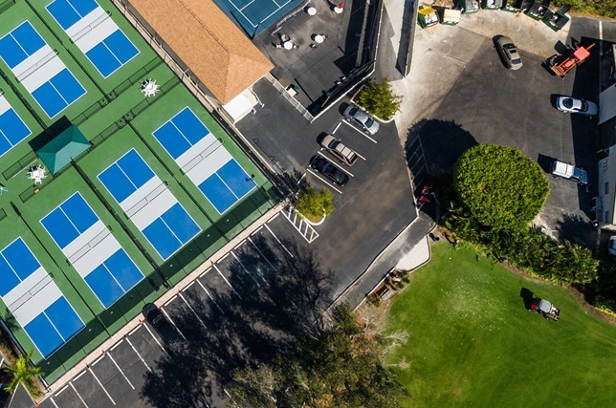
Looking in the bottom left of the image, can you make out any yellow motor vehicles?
No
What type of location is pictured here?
sports ground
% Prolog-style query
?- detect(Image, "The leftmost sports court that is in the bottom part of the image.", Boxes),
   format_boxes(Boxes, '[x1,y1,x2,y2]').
[0,237,86,358]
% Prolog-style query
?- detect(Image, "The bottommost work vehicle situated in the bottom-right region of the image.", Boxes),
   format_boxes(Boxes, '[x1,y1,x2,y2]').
[525,296,563,325]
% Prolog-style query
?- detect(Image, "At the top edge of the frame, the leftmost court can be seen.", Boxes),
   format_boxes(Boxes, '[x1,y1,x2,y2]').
[0,19,87,119]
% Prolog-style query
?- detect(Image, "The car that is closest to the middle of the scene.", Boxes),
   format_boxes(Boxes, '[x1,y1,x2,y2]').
[309,157,349,186]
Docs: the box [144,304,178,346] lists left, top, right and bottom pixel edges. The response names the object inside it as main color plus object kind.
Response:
black car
